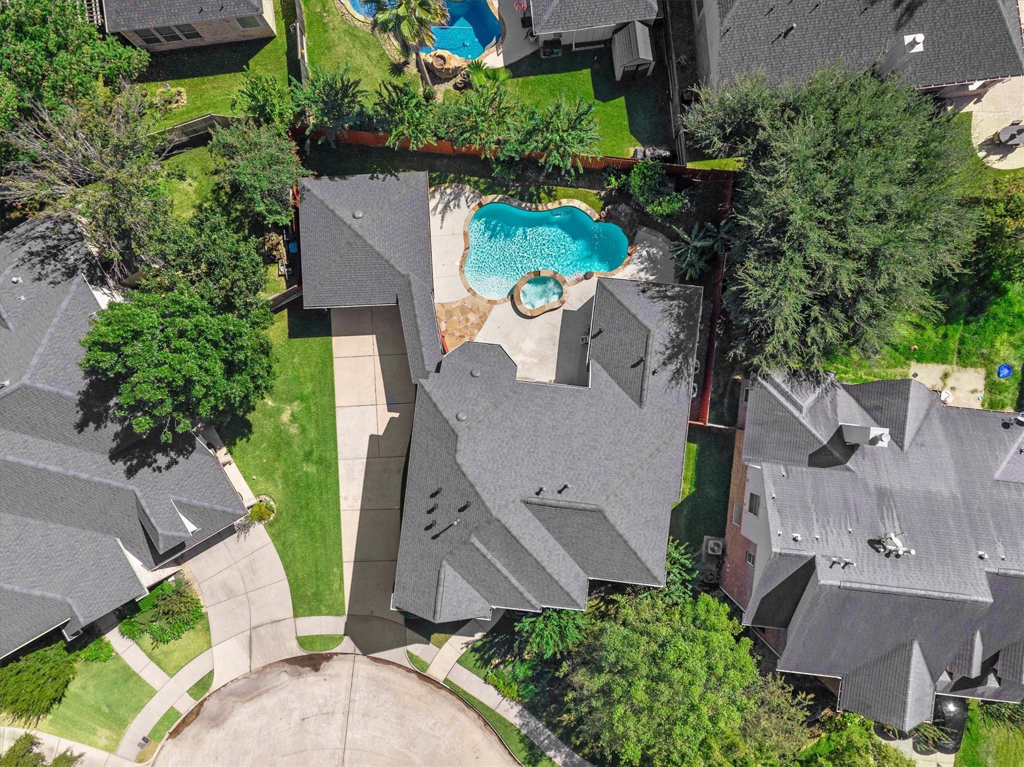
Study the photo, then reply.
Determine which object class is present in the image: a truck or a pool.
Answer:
pool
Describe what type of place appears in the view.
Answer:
residential area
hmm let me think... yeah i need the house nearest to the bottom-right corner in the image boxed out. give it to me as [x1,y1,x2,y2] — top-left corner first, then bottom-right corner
[719,371,1024,732]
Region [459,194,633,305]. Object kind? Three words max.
swimming pool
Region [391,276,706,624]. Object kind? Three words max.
house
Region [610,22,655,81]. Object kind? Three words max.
shed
